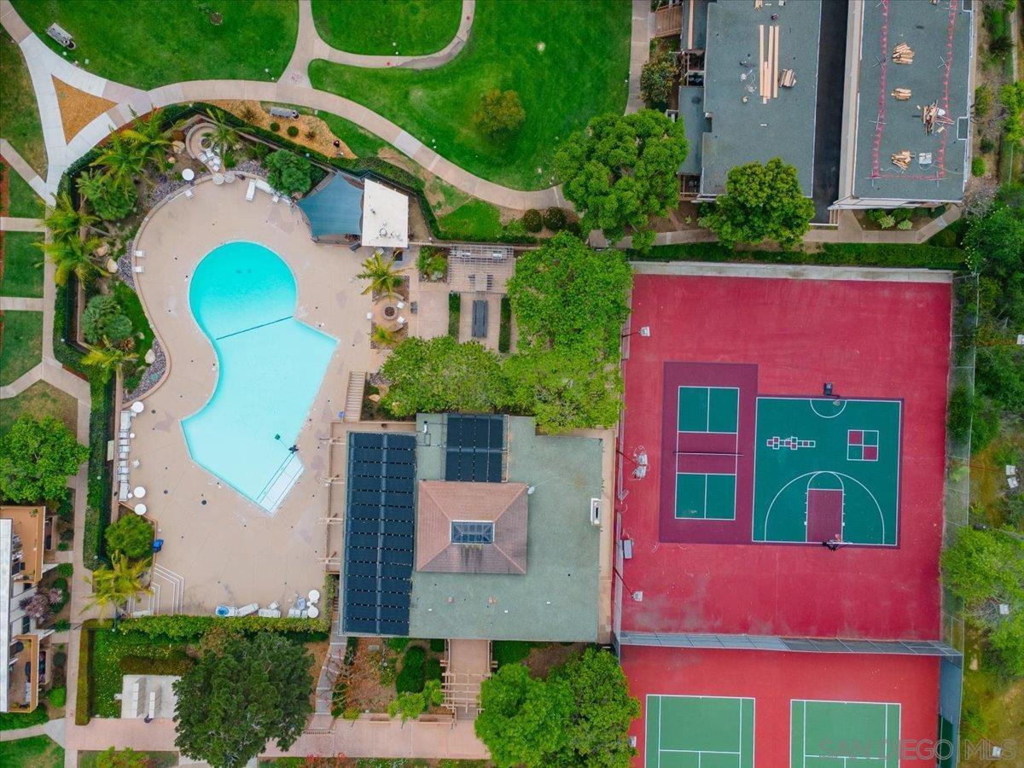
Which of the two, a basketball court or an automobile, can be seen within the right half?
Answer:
basketball court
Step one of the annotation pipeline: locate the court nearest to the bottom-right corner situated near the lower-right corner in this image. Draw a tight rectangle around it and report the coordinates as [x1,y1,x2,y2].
[789,700,901,768]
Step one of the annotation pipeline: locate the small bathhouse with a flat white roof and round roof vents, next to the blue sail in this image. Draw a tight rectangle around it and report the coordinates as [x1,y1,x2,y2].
[361,178,411,250]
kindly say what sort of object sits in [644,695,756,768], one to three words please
tennis court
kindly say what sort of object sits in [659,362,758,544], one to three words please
sports court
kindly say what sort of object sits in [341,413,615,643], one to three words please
building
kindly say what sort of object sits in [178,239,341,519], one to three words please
swimming pool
